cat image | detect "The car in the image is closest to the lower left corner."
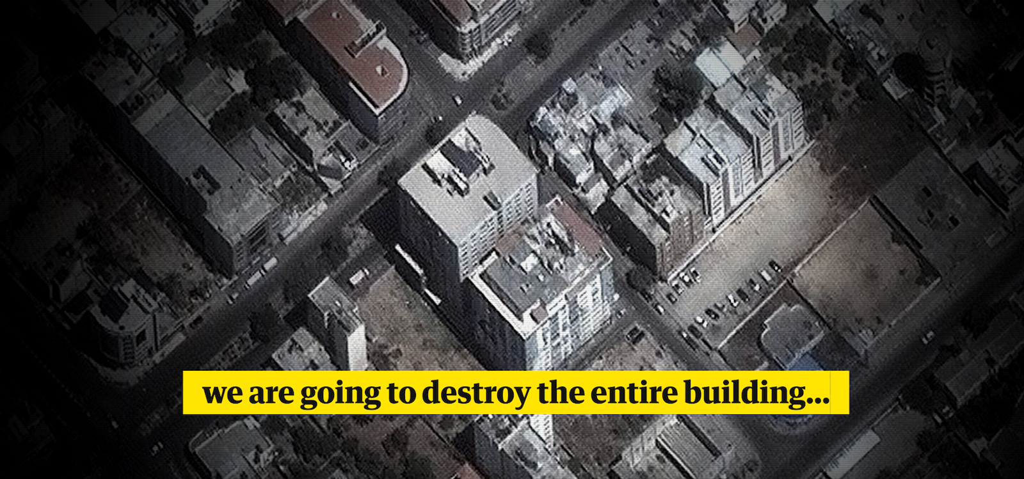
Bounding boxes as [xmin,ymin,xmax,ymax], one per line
[149,443,163,456]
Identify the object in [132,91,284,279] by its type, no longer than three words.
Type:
building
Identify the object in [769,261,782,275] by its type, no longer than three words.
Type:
vehicle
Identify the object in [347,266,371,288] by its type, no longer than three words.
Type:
truck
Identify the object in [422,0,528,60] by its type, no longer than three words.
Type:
building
